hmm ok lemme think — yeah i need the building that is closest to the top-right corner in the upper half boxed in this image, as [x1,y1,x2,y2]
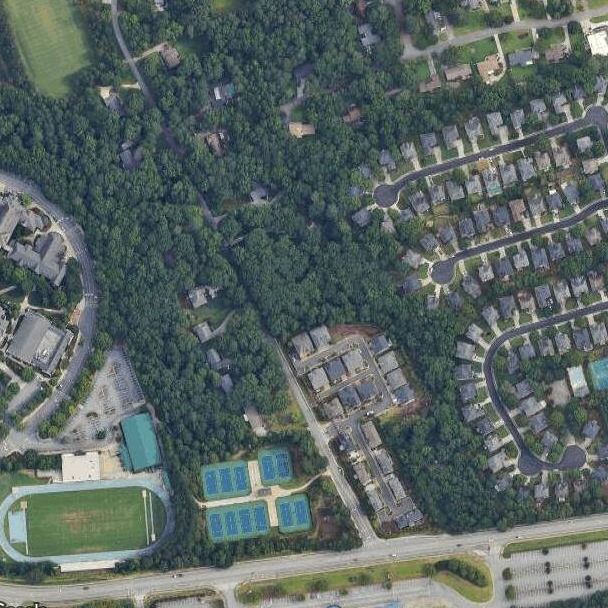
[588,31,608,55]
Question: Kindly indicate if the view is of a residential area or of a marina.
residential area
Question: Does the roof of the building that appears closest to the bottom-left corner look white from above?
Yes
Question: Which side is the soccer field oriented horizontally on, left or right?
left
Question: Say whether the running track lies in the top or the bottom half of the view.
bottom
